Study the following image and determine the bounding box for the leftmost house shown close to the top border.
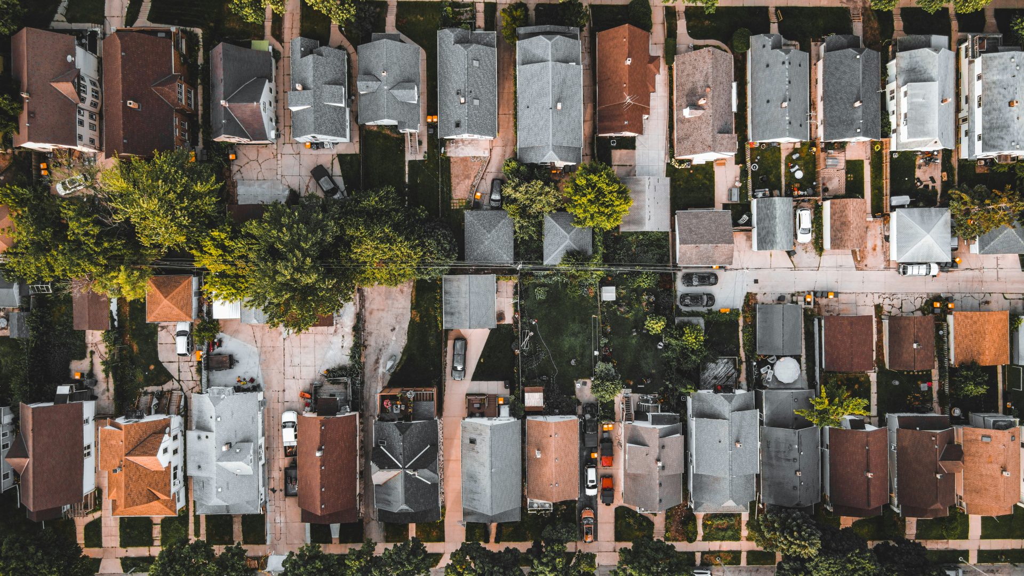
[11,26,101,151]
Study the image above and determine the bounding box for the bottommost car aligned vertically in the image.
[579,508,596,546]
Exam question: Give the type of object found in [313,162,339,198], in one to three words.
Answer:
car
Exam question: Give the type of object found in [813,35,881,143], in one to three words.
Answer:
house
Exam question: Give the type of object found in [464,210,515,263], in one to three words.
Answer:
building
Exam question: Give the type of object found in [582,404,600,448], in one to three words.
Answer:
vehicle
